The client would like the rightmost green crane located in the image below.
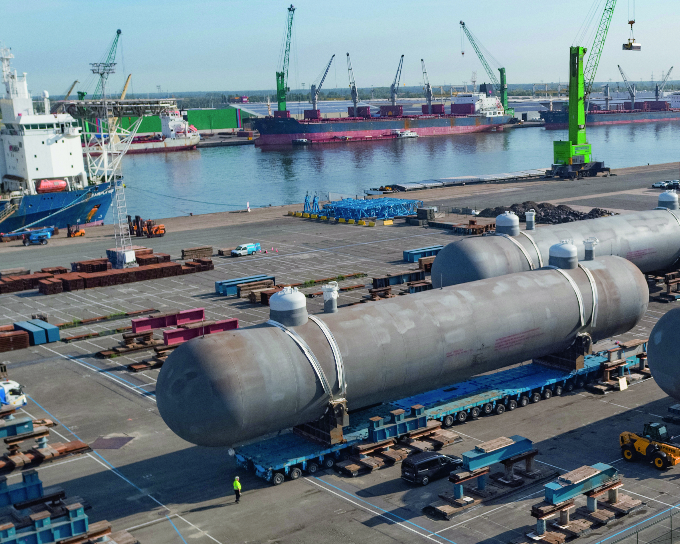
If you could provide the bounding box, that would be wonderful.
[541,0,634,179]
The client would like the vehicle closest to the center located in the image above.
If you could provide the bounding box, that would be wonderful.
[229,241,265,256]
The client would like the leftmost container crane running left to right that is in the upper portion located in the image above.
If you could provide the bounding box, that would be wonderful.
[354,75,413,98]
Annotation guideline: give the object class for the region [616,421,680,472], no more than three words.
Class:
work vehicle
